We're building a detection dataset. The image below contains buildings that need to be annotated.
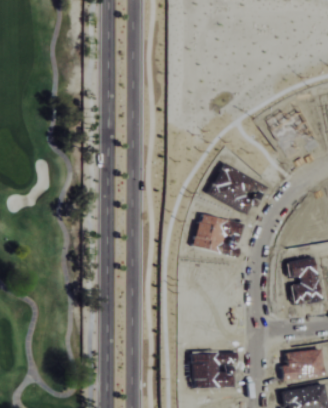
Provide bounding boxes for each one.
[284,351,326,382]
[192,354,238,388]
[280,386,328,408]
[288,258,324,304]
[211,166,268,214]
[194,214,244,256]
